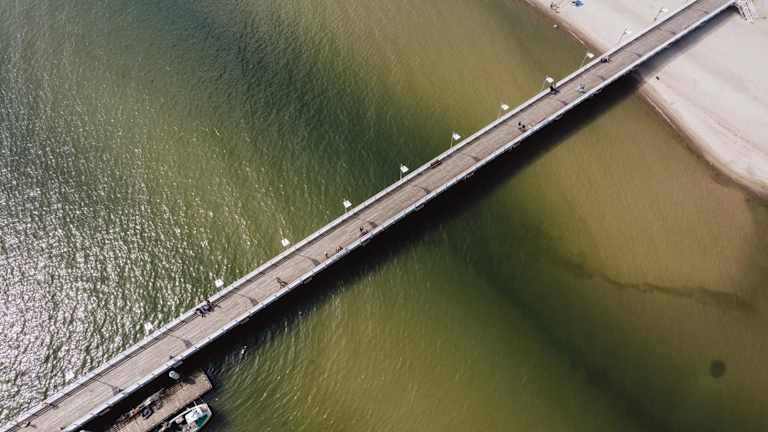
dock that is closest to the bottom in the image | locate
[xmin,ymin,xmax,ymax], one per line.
[104,368,214,432]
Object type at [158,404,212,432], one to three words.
boat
